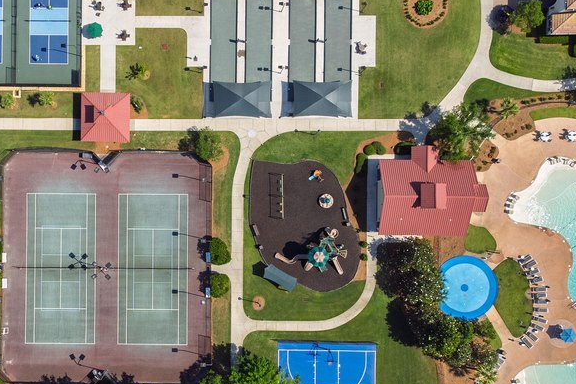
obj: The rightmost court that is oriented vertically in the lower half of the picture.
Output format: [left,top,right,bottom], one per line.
[105,152,211,383]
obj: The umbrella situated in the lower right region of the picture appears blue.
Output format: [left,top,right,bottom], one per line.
[557,328,575,343]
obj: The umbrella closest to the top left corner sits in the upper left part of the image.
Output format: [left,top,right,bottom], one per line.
[84,21,103,40]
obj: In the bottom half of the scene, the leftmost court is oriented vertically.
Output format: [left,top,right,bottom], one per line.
[3,151,106,383]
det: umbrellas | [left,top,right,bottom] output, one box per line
[557,328,575,343]
[84,21,103,40]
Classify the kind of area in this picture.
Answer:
sports ground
